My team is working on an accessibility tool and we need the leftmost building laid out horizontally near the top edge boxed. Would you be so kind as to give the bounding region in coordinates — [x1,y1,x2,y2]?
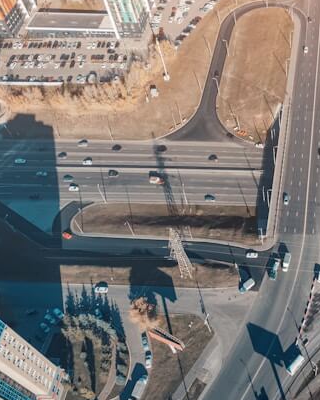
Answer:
[21,12,116,39]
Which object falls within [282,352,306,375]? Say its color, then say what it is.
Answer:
white truck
